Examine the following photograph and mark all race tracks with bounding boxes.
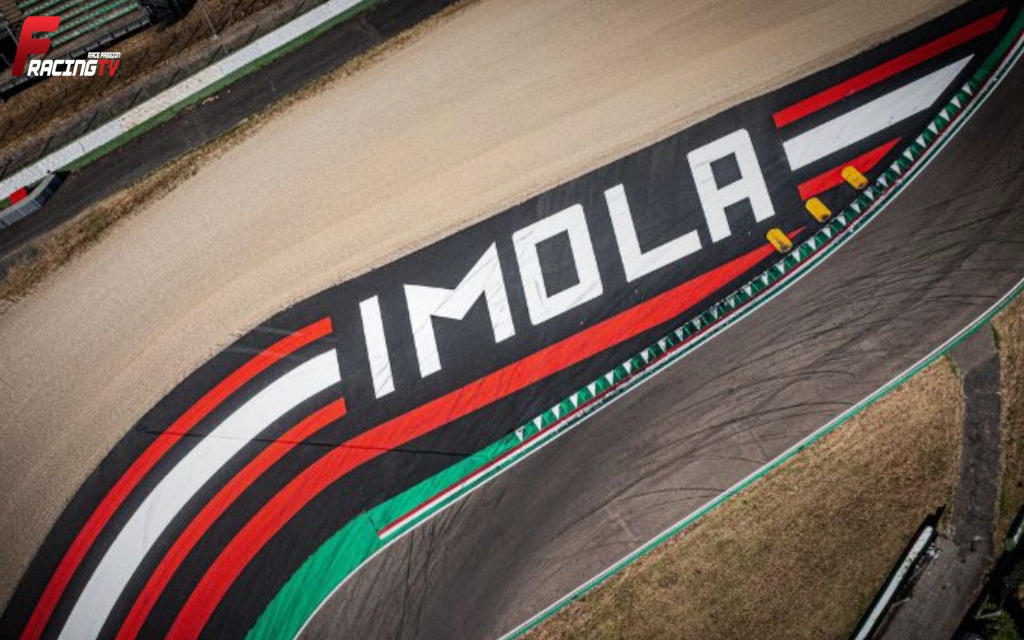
[293,25,1024,640]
